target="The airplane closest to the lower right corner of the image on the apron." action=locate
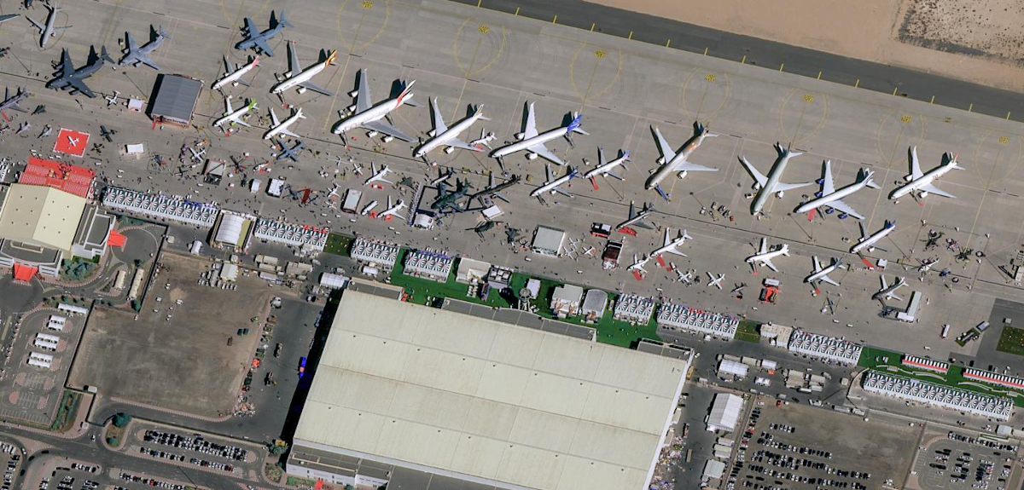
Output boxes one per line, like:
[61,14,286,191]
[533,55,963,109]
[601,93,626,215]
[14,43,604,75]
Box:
[873,275,908,303]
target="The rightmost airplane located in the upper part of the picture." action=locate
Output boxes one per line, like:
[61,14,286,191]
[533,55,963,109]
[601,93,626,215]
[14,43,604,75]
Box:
[890,147,961,199]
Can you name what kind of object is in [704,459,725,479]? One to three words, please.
tent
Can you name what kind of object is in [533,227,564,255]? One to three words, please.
tent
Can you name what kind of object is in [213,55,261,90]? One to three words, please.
airplane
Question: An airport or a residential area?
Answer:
airport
